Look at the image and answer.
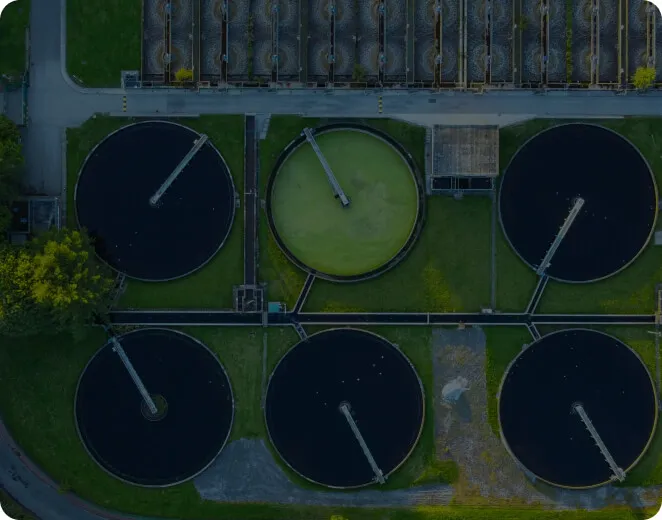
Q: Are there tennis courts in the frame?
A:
No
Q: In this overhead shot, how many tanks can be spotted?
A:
6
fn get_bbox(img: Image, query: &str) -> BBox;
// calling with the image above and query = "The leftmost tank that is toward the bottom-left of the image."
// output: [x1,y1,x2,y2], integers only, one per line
[74,328,234,488]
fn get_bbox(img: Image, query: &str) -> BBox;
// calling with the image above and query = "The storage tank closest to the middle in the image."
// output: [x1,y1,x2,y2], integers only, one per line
[265,122,425,283]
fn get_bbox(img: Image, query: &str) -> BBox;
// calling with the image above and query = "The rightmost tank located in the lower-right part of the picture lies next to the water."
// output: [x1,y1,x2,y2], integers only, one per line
[497,328,658,488]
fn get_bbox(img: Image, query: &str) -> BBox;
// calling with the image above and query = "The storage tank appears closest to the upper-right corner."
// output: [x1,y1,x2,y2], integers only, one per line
[497,124,659,283]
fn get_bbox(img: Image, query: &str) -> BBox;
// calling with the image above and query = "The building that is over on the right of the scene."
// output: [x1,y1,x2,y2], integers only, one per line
[431,125,499,177]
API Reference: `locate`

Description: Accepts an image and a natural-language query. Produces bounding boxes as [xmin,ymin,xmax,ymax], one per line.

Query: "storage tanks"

[265,122,425,283]
[497,124,659,283]
[497,328,658,488]
[74,328,234,488]
[265,328,425,488]
[75,121,237,281]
